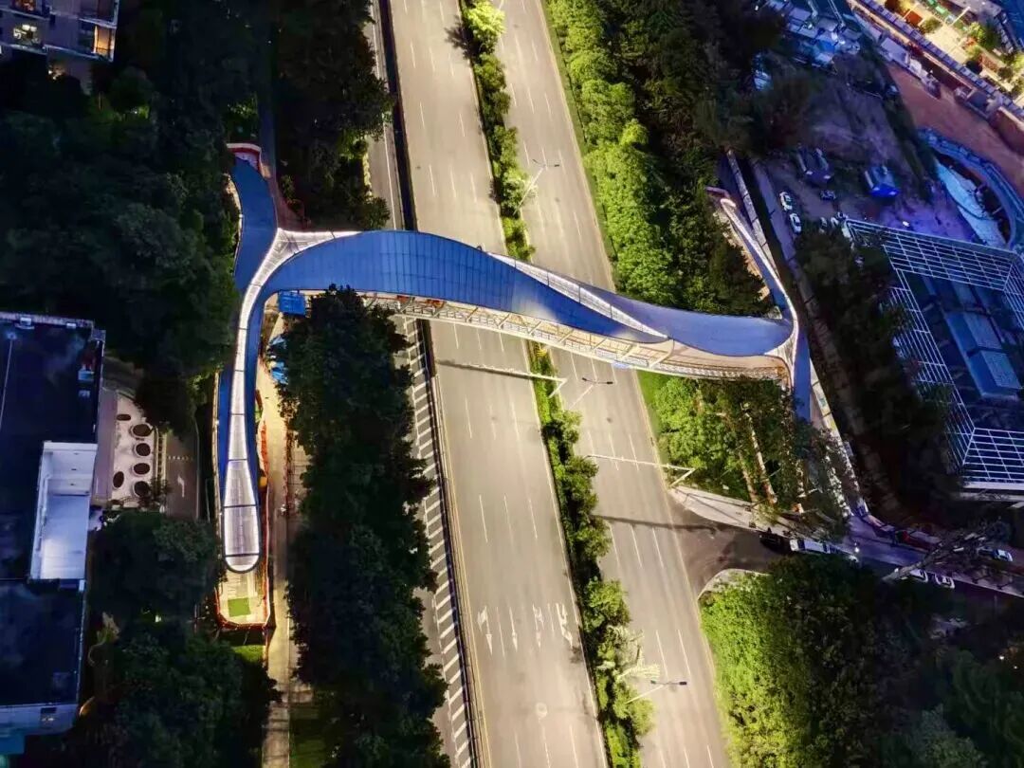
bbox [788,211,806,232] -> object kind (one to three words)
car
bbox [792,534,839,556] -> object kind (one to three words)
vehicle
